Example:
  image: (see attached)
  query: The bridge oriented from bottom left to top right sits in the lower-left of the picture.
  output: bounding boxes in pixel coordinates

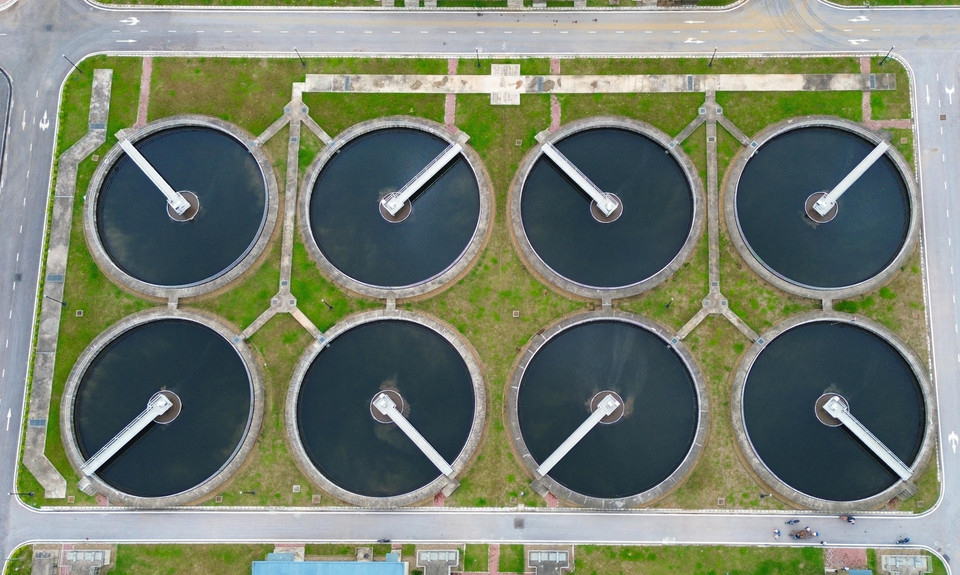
[81,392,173,475]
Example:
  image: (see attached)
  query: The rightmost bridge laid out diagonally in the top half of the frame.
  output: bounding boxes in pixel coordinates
[813,138,894,216]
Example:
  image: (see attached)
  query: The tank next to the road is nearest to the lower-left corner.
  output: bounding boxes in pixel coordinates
[62,309,265,507]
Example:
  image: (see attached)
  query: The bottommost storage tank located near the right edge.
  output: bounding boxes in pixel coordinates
[731,310,937,511]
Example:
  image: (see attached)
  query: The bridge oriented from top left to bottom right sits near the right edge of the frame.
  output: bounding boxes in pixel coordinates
[823,395,916,480]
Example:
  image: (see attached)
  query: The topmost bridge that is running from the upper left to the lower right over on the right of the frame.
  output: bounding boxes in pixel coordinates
[540,139,622,215]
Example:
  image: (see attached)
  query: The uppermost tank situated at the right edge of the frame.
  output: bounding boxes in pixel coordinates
[725,115,922,299]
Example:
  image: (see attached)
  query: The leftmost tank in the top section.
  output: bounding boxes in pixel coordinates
[84,115,279,299]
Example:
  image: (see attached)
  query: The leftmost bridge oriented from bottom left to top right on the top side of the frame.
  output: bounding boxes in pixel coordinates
[380,139,464,215]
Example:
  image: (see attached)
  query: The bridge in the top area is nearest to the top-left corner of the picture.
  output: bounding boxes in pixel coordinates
[114,136,190,215]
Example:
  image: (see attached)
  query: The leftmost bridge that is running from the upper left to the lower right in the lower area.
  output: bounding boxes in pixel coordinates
[371,393,454,477]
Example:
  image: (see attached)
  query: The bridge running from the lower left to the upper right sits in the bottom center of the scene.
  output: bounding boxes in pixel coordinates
[538,393,622,477]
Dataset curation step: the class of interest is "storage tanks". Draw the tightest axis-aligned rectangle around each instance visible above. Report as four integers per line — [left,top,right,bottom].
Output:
[731,310,937,511]
[297,115,491,300]
[513,117,703,298]
[84,115,279,299]
[725,115,922,299]
[62,309,265,507]
[506,310,708,507]
[286,310,486,507]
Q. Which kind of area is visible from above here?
industrial area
